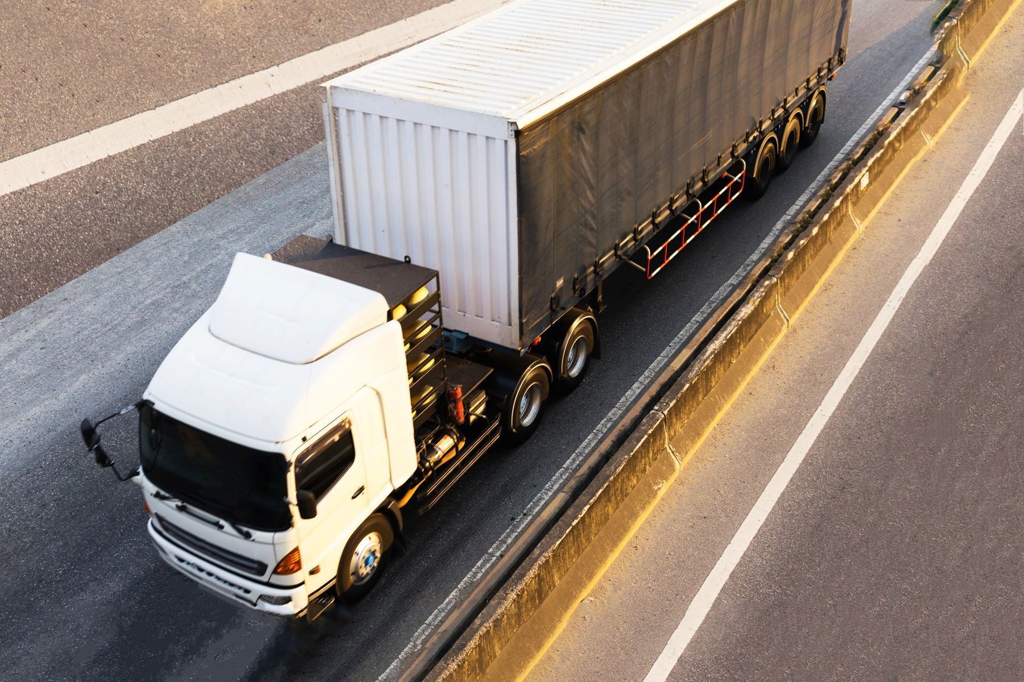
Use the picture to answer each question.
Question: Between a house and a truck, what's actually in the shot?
truck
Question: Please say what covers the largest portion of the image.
paved ground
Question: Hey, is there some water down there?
No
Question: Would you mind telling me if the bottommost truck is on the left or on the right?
left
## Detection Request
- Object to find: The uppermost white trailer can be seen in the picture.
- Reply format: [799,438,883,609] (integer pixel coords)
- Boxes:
[323,0,852,359]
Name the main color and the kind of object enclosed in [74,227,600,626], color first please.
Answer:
white truck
